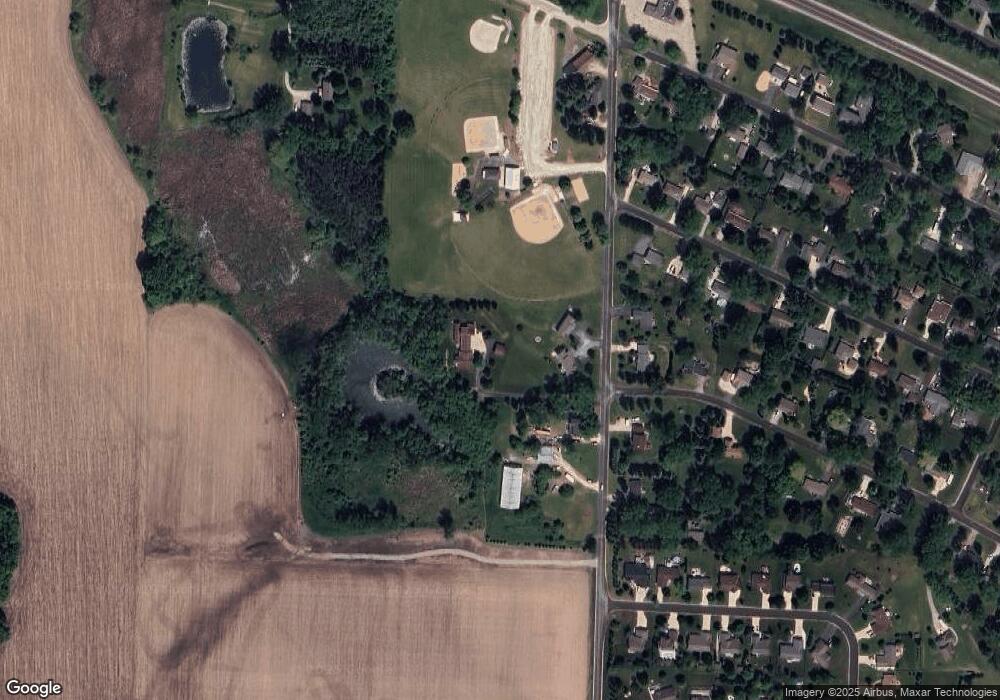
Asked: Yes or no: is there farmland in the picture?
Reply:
Yes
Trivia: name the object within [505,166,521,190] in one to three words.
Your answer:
building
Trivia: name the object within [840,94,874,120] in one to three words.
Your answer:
house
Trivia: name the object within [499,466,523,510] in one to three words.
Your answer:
barn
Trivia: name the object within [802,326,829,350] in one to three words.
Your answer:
house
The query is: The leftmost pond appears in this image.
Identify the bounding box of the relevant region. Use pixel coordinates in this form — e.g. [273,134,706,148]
[181,17,232,112]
